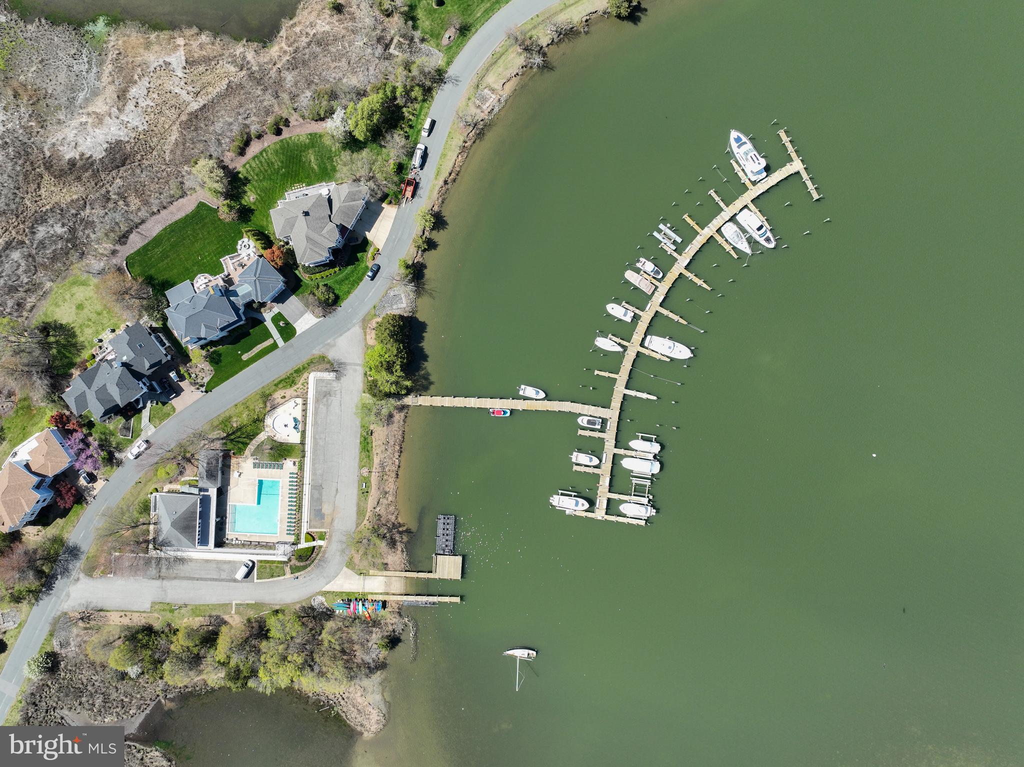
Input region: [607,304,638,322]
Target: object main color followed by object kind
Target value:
white boat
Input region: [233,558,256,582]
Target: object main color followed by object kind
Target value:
white vehicle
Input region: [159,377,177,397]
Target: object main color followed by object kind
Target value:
black car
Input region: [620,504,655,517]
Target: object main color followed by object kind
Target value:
white boat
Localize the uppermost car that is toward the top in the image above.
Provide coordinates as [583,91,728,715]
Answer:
[421,116,435,137]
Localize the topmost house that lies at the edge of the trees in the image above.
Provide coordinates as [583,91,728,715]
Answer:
[269,180,371,266]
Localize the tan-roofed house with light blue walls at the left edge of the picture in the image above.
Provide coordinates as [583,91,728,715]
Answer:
[0,428,78,533]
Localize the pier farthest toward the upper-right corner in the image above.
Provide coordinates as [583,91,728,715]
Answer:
[777,130,819,200]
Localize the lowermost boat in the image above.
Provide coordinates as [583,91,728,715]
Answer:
[505,649,536,689]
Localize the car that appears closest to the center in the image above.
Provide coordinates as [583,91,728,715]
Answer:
[364,264,381,281]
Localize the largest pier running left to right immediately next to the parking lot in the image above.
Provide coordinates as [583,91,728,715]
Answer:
[400,395,610,419]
